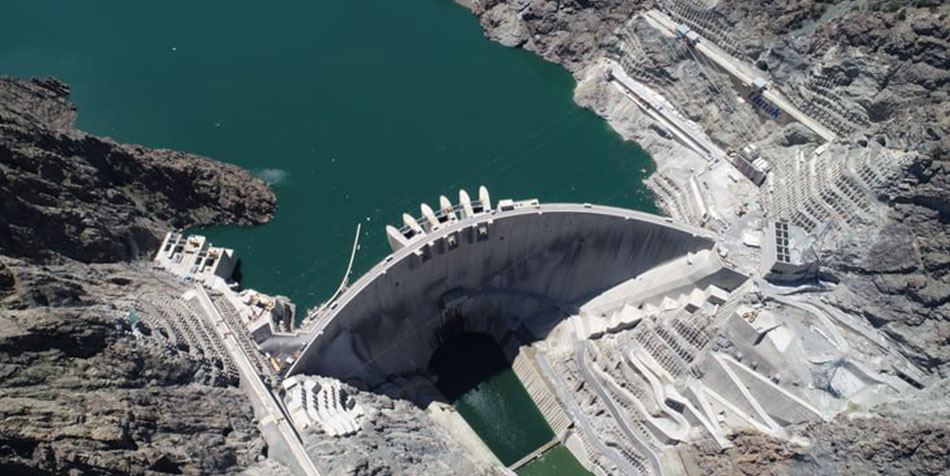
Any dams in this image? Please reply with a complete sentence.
Yes, a dam is visible in the scene.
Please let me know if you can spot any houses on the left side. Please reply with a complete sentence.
No, I can find no house on the left side.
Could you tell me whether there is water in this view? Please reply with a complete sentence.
Yes, some water is visible.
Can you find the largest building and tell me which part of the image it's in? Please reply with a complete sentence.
You can find the largest building in the right area of the picture.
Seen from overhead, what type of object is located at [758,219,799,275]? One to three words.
building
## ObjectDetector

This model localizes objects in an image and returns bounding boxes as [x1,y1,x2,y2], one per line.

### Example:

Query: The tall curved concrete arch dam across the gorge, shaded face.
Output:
[277,187,720,380]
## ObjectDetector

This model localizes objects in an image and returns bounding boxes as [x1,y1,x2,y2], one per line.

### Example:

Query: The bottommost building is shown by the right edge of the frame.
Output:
[892,369,924,394]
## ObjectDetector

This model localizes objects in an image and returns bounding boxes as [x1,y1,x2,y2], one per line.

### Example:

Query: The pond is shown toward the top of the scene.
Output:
[0,0,658,328]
